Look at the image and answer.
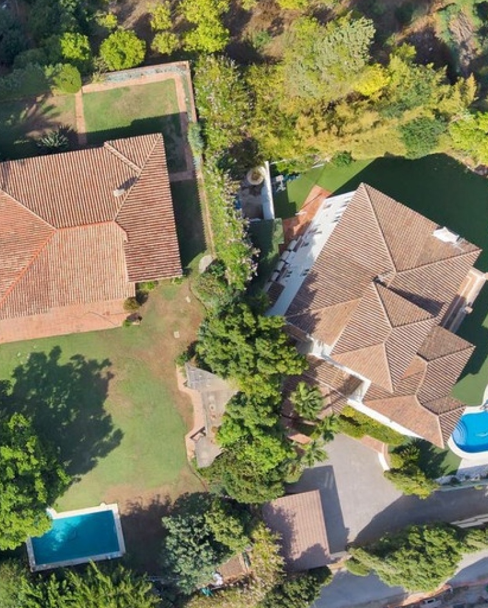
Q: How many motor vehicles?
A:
none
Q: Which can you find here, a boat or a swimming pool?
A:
swimming pool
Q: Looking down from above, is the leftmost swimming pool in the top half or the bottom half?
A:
bottom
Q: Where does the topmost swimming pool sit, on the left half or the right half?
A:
right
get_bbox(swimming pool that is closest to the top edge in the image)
[446,386,488,464]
